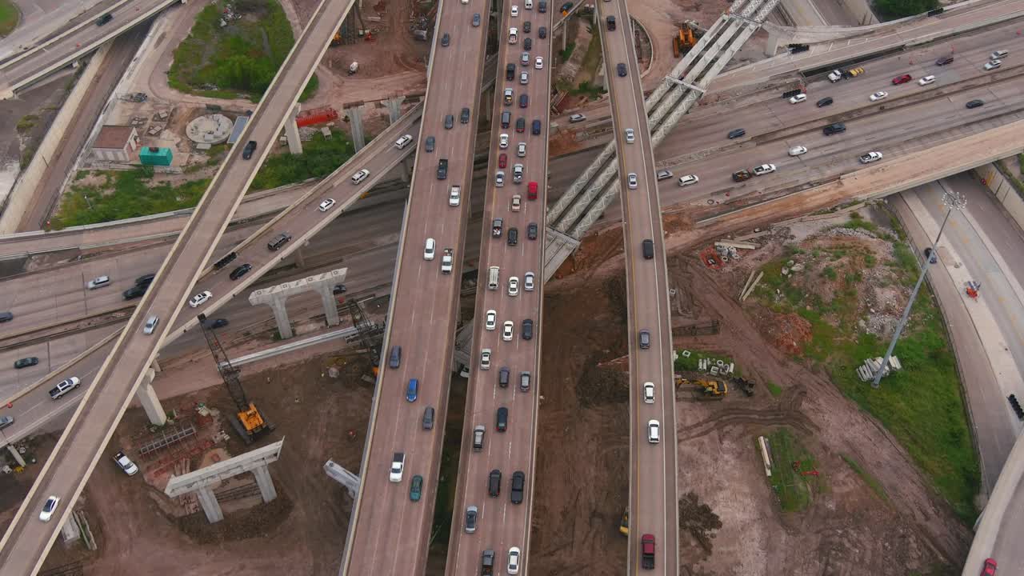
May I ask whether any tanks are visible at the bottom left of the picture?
No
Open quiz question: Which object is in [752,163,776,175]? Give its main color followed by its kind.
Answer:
white vehicle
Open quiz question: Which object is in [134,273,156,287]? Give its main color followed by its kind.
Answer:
black car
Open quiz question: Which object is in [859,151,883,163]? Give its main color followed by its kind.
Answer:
white vehicle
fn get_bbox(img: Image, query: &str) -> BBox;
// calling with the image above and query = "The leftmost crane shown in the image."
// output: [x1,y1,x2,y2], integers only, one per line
[197,313,267,442]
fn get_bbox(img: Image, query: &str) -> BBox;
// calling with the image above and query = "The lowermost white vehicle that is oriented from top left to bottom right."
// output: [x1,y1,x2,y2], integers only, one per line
[113,450,138,475]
